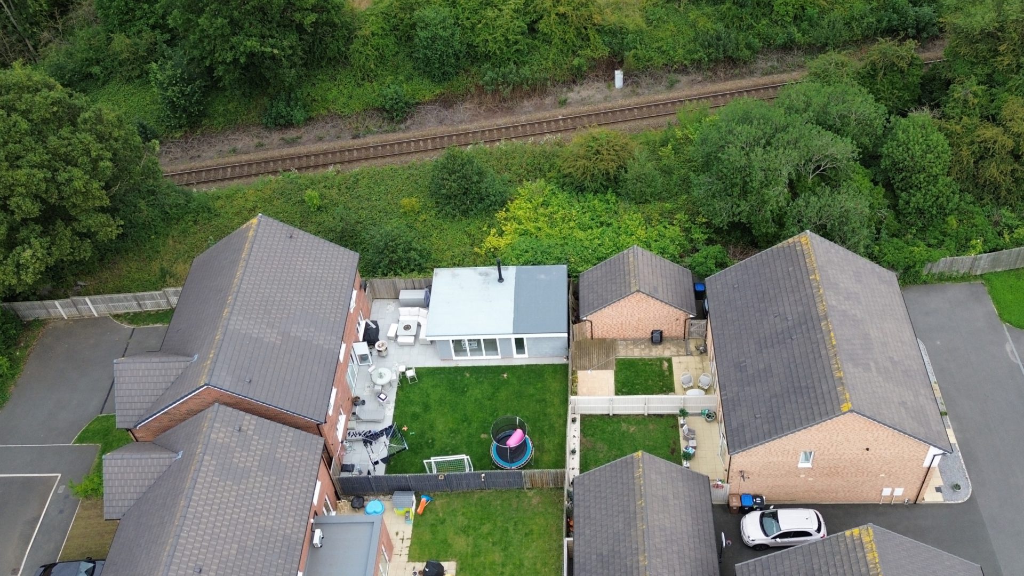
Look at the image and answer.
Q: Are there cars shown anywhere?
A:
Yes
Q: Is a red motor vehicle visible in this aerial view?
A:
No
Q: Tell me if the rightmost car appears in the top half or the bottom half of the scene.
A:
bottom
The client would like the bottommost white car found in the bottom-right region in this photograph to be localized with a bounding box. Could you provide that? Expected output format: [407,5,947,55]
[740,506,828,552]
